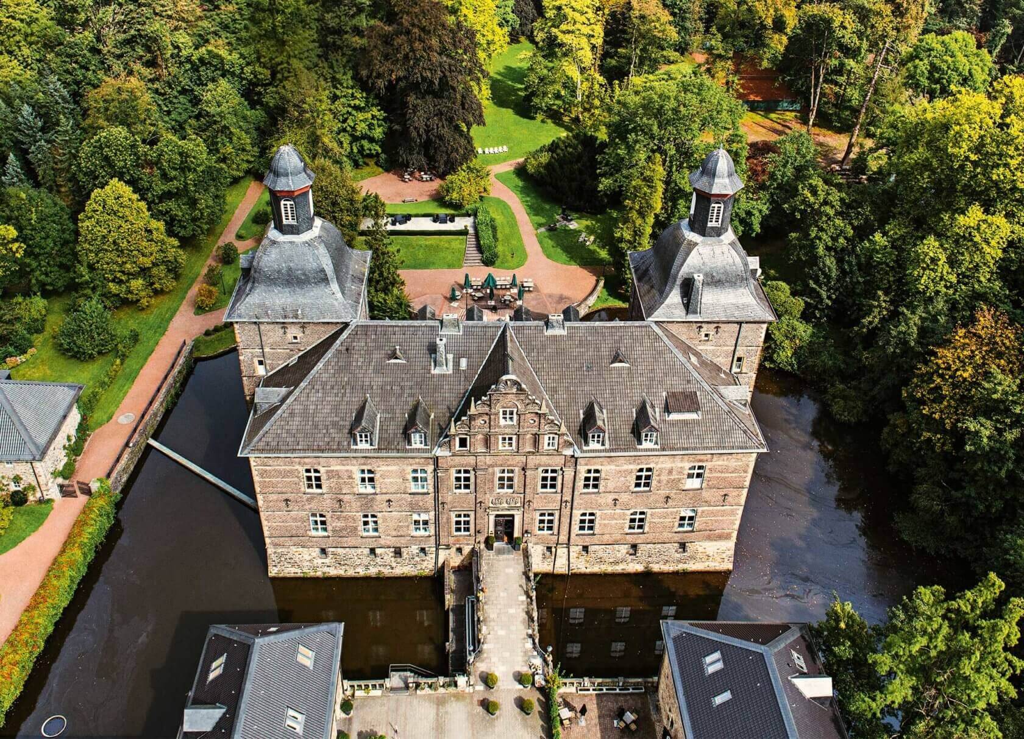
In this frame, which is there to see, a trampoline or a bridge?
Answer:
bridge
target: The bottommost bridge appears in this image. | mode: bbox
[466,540,555,684]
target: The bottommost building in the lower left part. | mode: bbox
[174,620,346,739]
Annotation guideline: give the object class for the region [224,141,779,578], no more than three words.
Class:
building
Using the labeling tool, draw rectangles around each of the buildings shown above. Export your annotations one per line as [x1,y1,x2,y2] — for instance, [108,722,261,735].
[658,617,849,739]
[174,620,346,739]
[224,141,779,578]
[0,353,87,501]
